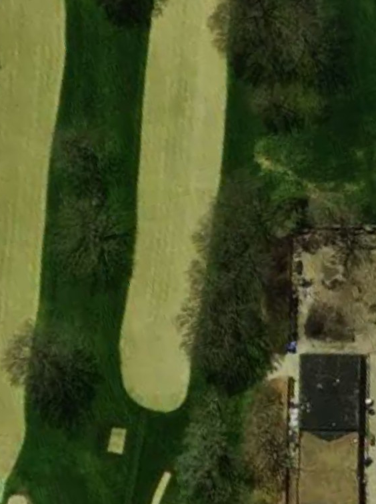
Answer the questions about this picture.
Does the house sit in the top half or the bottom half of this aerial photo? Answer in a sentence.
The house sits in the bottom half of the picture.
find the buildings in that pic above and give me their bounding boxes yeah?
[299,354,359,504]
